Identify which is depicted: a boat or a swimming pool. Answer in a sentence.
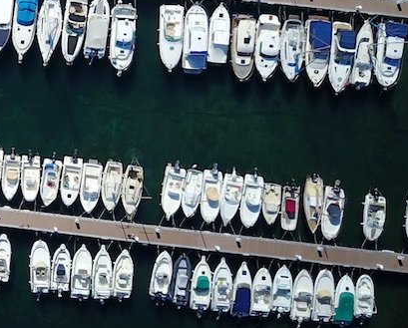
Visible in the photo is a boat.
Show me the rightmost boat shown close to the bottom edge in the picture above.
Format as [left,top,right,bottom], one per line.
[354,267,377,321]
